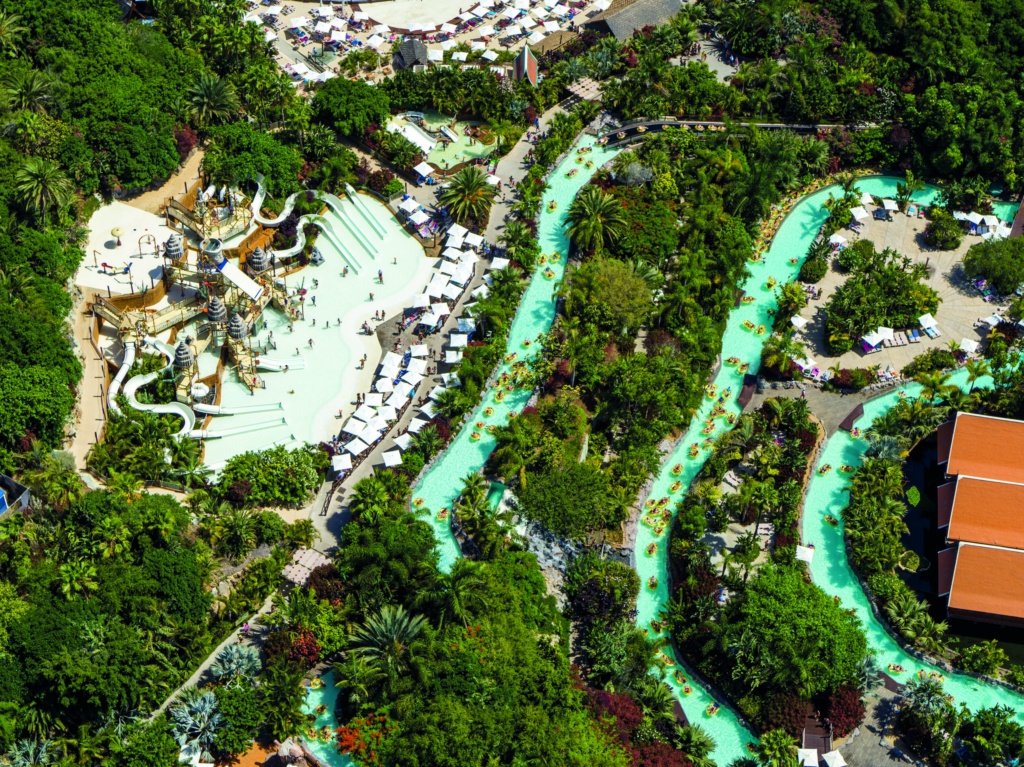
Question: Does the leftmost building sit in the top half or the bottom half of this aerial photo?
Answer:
bottom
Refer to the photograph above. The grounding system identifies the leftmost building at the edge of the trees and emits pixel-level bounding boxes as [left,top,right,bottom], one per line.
[0,476,30,527]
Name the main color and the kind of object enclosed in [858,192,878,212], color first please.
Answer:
white umbrella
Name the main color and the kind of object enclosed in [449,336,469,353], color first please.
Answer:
white umbrella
